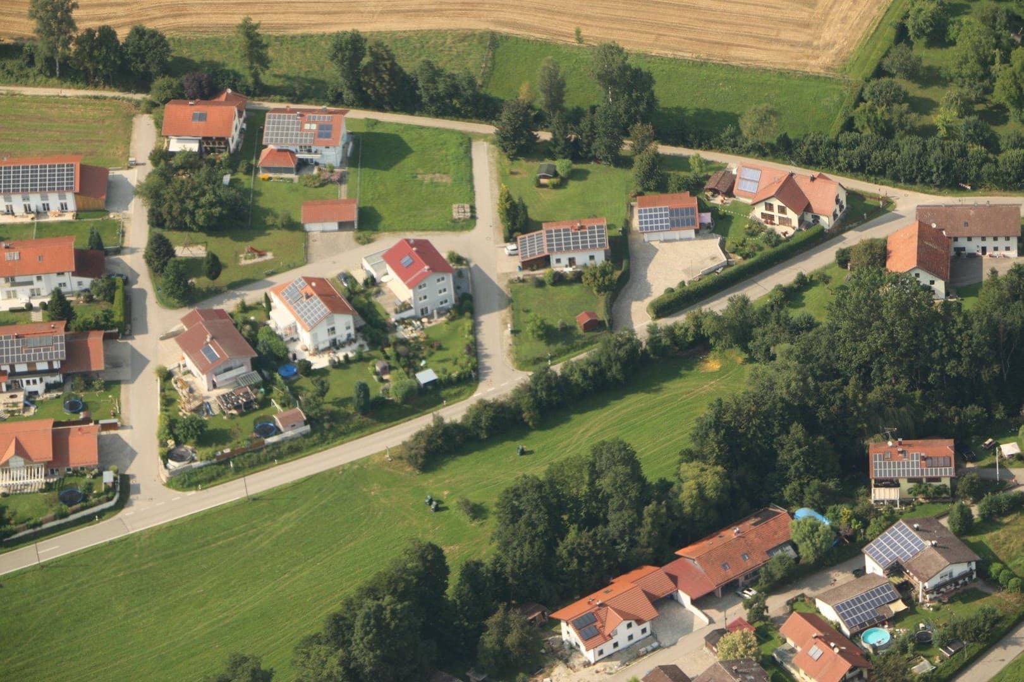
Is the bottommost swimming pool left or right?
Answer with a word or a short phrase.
right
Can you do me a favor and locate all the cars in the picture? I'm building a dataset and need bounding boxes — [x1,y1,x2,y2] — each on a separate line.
[501,244,520,256]
[735,584,757,601]
[846,566,871,580]
[977,436,1000,451]
[334,271,354,288]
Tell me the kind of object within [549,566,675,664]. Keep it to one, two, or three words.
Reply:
house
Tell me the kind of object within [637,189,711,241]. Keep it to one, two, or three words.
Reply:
building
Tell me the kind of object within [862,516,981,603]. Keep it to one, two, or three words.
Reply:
house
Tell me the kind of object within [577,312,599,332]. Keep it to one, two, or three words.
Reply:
shed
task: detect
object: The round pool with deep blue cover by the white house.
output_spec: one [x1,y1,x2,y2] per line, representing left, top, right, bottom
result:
[277,366,297,383]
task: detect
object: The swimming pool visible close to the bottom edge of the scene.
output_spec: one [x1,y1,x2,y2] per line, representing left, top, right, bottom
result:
[861,626,890,651]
